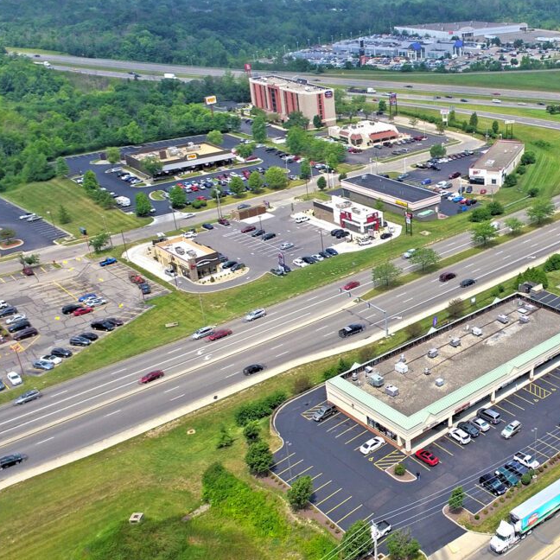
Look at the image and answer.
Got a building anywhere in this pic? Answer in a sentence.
Yes, this view includes a building.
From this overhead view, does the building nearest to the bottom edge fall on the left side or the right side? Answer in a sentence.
The building nearest to the bottom edge is on the right side of the image.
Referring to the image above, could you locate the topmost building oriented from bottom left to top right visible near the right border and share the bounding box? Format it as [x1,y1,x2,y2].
[470,141,535,186]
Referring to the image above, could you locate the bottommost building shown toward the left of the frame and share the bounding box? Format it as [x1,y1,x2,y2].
[152,234,223,282]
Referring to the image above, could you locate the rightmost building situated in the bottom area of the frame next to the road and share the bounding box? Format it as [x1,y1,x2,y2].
[329,287,560,457]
